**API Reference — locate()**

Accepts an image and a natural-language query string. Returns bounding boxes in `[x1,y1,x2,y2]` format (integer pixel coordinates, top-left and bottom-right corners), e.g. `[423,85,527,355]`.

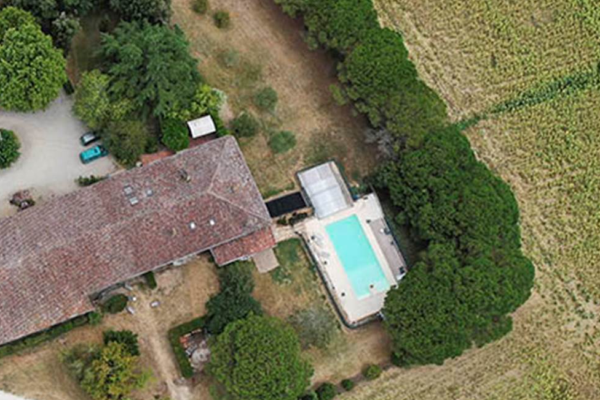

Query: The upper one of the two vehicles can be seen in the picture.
[80,129,107,146]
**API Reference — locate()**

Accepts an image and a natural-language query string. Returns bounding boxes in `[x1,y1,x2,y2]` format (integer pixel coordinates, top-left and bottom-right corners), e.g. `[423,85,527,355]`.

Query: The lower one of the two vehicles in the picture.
[80,145,109,163]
